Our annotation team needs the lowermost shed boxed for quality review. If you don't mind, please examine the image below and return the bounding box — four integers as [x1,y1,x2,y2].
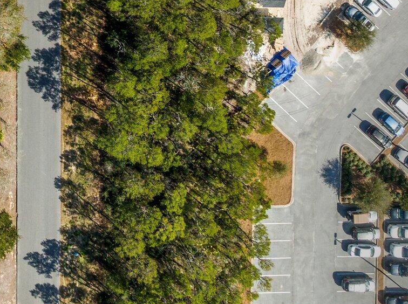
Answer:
[255,17,285,33]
